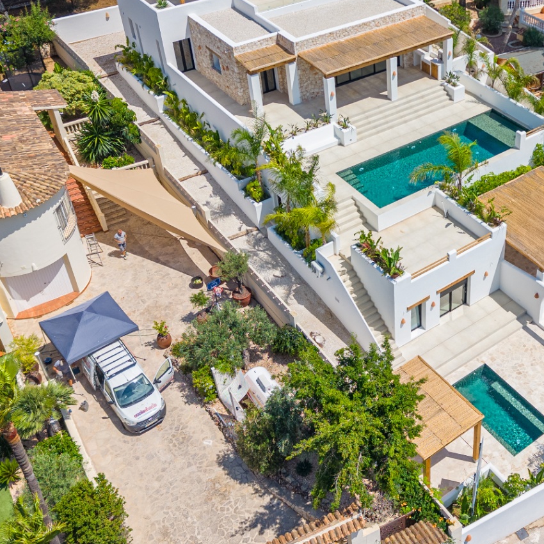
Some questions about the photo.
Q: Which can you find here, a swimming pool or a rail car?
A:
swimming pool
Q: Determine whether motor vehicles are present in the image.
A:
Yes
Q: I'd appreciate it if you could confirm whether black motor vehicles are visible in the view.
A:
No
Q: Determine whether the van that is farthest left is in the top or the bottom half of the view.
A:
bottom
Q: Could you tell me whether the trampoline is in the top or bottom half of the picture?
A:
top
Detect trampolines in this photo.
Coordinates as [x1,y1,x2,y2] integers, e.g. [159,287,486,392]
[0,42,51,91]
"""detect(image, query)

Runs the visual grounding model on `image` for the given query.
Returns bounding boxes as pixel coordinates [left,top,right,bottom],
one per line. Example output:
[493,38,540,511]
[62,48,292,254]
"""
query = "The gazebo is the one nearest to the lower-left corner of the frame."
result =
[38,292,149,393]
